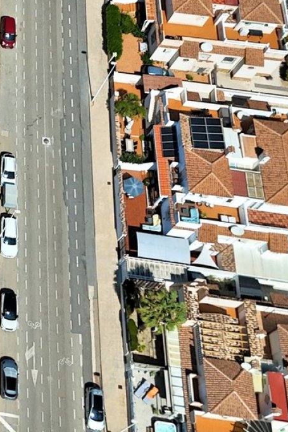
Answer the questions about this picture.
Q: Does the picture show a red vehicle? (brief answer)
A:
Yes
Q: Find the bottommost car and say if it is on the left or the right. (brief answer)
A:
left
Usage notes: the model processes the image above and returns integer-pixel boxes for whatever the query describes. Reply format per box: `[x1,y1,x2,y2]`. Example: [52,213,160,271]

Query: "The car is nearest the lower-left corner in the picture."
[0,356,19,402]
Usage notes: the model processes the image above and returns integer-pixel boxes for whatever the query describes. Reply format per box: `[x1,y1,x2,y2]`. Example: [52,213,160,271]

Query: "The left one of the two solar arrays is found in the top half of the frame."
[158,123,175,165]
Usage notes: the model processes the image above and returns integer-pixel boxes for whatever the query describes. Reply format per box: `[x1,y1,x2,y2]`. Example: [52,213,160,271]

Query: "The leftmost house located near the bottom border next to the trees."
[165,285,263,432]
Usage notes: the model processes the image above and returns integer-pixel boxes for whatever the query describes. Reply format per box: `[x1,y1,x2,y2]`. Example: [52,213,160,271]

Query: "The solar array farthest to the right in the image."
[190,117,225,148]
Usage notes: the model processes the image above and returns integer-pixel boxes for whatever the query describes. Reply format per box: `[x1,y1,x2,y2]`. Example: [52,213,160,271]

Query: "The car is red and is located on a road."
[0,15,18,50]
